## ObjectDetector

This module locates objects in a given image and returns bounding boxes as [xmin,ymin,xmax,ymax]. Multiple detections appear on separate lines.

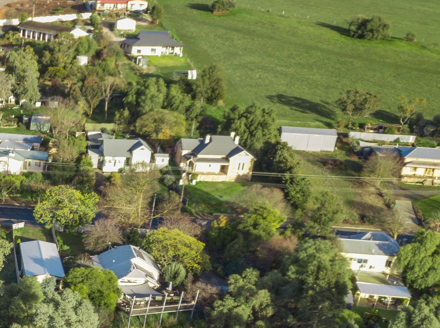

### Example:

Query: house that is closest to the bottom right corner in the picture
[327,213,411,320]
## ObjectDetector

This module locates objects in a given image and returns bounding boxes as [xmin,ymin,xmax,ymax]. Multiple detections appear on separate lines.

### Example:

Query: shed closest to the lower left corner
[20,232,65,304]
